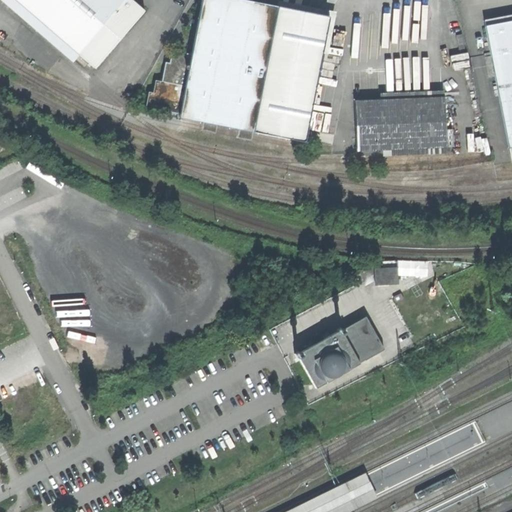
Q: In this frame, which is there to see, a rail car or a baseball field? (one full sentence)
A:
This aerial view contains a rail car.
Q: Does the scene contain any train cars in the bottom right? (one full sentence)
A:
Yes, in the bottom right there is a train car.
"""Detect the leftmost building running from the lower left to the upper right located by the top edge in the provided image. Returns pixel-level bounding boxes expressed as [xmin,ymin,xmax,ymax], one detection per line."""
[77,0,146,68]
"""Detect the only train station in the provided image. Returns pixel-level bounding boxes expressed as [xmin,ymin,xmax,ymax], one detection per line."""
[287,402,512,512]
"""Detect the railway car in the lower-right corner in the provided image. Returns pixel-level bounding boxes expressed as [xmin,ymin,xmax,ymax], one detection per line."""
[415,471,458,496]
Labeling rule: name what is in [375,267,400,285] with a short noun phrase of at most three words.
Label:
shed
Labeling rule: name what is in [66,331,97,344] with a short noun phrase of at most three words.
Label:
vehicle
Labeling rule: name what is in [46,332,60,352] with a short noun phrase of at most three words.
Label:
vehicle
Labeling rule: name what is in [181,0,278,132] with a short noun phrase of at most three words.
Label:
building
